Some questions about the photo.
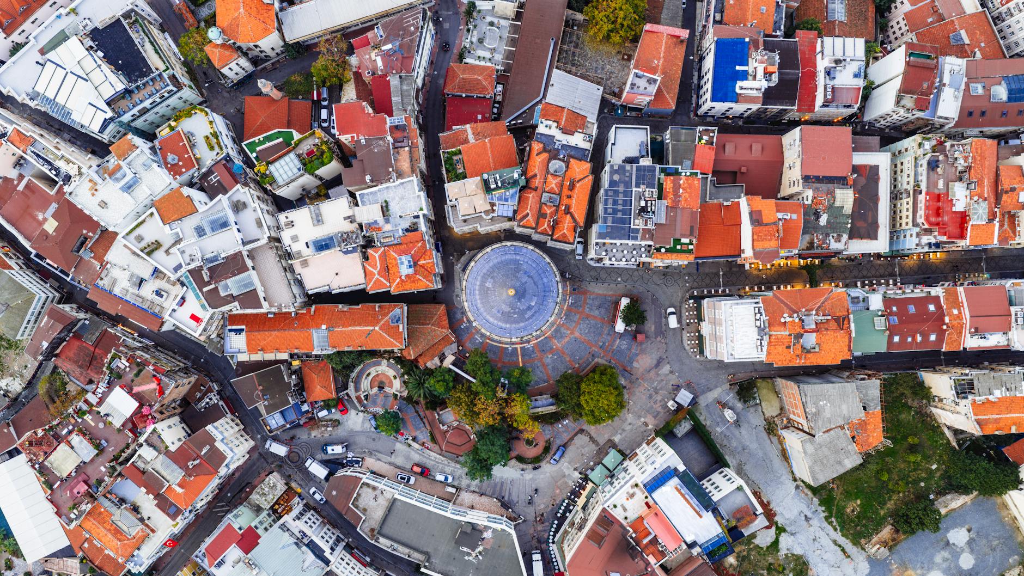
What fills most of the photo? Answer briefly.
buildings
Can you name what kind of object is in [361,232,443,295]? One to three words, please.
building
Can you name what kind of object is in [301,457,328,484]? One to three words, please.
truck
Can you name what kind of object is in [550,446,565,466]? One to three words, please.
car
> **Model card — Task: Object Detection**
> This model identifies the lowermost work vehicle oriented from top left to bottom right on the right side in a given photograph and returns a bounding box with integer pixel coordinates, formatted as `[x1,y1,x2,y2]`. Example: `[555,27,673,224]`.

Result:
[716,396,736,421]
